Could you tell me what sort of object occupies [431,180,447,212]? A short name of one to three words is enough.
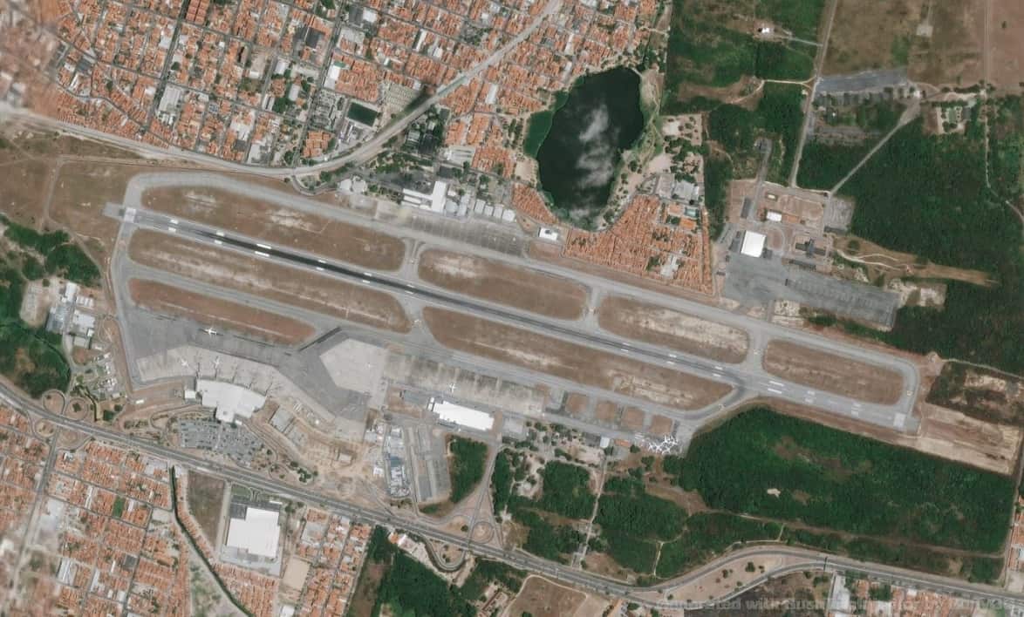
building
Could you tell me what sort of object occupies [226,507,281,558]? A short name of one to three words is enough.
building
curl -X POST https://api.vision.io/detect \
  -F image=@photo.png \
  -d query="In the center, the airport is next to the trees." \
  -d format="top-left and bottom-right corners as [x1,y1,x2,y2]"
[103,171,920,454]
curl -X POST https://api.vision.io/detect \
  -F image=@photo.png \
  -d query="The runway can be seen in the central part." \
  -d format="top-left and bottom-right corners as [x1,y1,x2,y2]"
[125,208,906,428]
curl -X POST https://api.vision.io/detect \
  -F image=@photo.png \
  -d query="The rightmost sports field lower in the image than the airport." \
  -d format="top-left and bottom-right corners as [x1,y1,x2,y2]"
[280,557,311,593]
